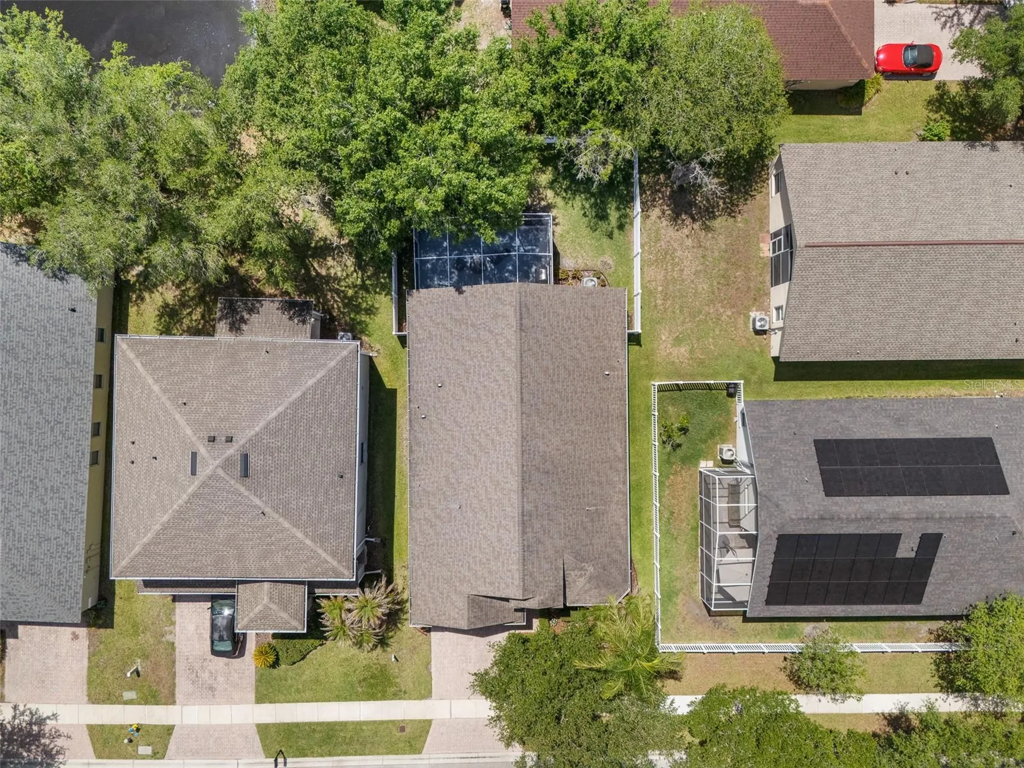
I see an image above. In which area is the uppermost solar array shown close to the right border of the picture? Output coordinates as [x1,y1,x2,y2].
[810,439,1008,496]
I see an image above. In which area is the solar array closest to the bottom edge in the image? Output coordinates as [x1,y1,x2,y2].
[766,534,941,605]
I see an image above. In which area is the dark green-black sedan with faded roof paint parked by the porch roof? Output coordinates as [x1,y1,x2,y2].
[205,594,244,659]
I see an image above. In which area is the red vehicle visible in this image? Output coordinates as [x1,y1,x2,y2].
[875,40,942,78]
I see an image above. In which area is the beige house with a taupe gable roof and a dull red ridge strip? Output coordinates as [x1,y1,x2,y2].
[771,142,1024,361]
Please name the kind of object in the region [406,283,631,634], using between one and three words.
house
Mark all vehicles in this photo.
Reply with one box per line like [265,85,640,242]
[205,594,244,659]
[875,40,942,78]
